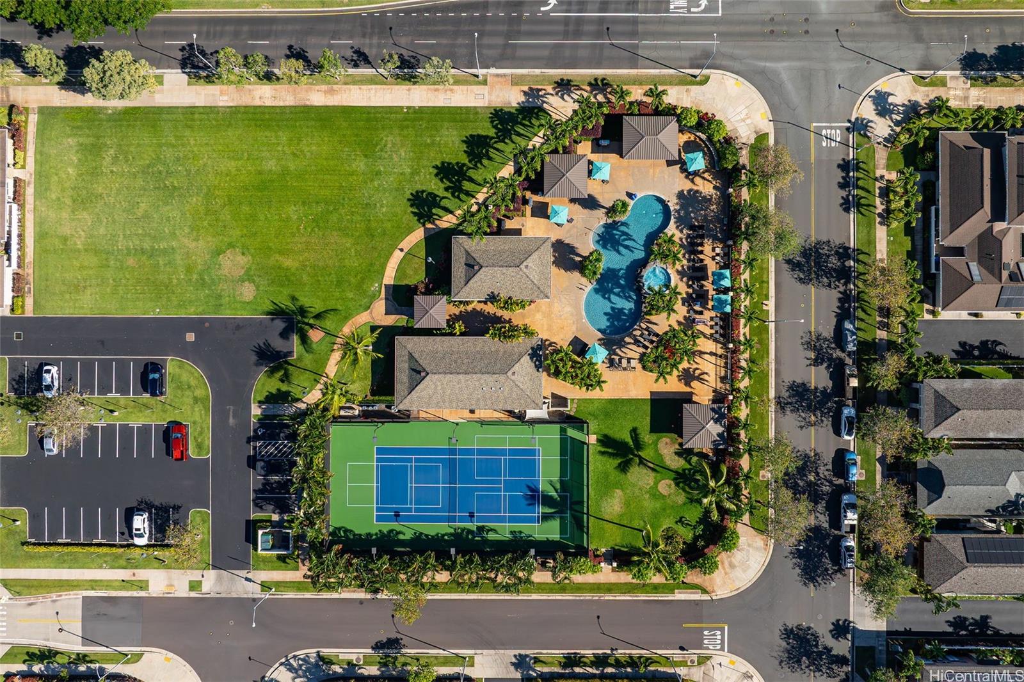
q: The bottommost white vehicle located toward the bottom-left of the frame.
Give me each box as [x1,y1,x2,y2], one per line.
[131,510,149,544]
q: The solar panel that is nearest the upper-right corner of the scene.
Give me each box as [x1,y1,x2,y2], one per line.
[997,286,1024,307]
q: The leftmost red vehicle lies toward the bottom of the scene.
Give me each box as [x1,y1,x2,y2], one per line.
[170,424,188,461]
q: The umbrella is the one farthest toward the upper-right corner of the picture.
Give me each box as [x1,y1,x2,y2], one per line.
[684,152,704,172]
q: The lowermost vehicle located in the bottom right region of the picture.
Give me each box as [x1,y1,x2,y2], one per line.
[839,536,857,569]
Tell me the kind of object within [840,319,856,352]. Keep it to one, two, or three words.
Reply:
car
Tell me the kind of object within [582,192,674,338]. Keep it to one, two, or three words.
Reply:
swimming pool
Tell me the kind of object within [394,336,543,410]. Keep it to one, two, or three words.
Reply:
building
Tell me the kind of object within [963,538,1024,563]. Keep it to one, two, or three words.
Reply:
solar panel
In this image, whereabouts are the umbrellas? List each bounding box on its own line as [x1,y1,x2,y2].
[549,205,568,224]
[711,294,730,313]
[684,152,704,172]
[584,340,609,363]
[711,269,730,289]
[591,162,610,181]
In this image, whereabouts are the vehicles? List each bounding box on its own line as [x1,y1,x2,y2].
[842,364,861,401]
[842,450,859,481]
[146,362,164,395]
[40,364,59,396]
[840,492,859,534]
[170,424,188,461]
[840,319,856,352]
[839,536,857,569]
[40,425,59,456]
[131,510,149,544]
[840,406,858,440]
